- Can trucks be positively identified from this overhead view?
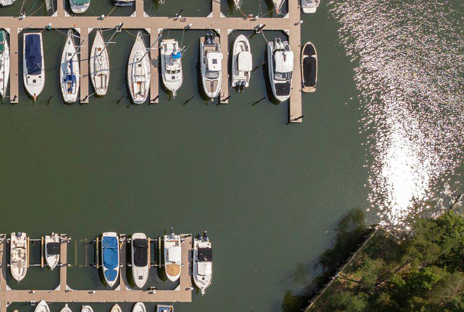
No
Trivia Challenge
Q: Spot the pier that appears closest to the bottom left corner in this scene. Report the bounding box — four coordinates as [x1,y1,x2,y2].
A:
[0,234,192,312]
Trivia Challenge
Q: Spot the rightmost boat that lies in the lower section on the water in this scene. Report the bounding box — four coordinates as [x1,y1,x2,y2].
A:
[192,230,213,295]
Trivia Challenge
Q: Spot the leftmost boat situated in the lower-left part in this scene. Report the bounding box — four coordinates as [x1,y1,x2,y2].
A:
[11,229,28,284]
